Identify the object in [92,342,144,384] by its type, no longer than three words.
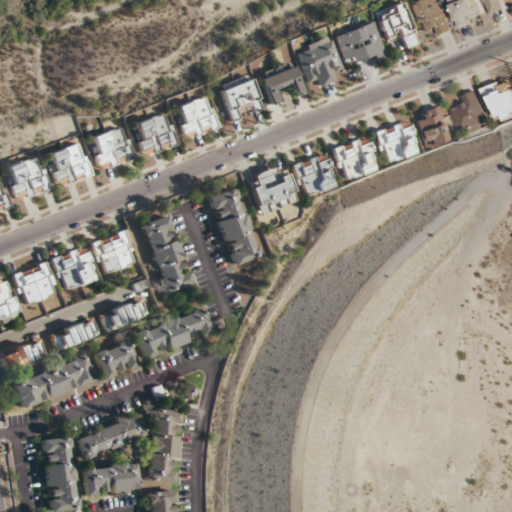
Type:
building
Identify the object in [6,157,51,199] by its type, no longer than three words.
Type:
house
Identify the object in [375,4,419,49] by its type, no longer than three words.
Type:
house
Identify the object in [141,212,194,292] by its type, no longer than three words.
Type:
building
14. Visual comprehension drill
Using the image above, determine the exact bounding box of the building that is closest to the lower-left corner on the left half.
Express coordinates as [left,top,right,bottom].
[40,436,80,512]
